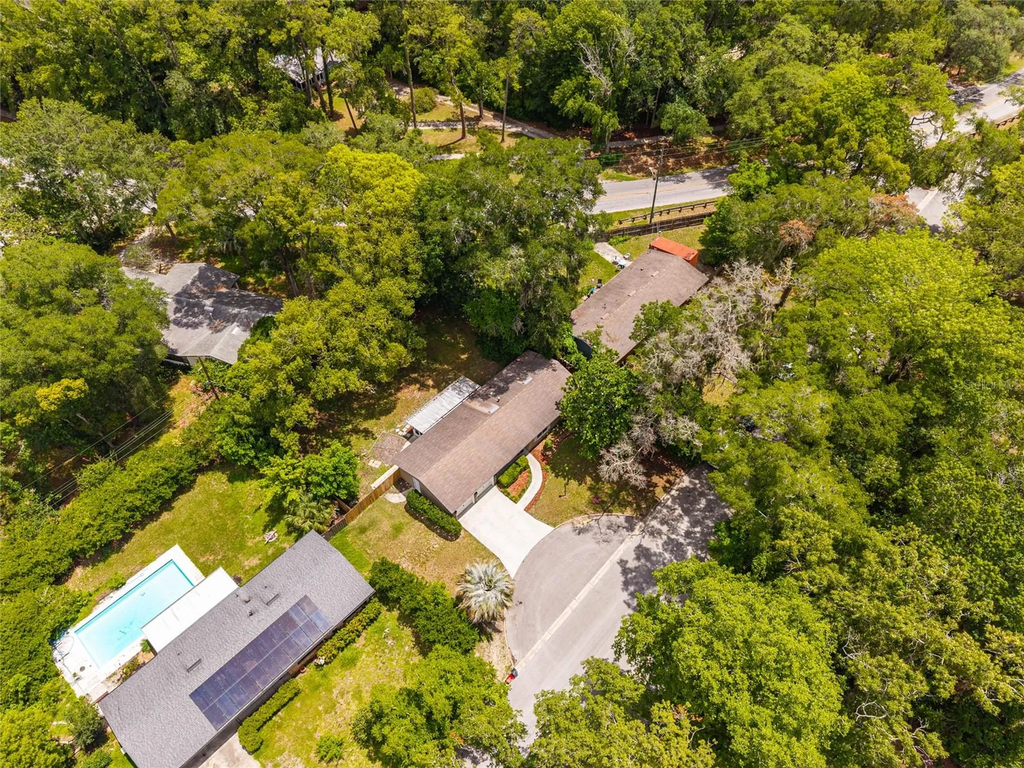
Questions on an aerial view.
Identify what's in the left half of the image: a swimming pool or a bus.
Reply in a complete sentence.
Visible in the left half of the image is a swimming pool.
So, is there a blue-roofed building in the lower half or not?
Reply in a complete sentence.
No, no blue-roofed building is visible in the lower half.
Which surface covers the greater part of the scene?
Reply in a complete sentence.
What you mostly see from above here is trees.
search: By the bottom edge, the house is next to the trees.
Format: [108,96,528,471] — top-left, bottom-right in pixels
[98,532,376,768]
